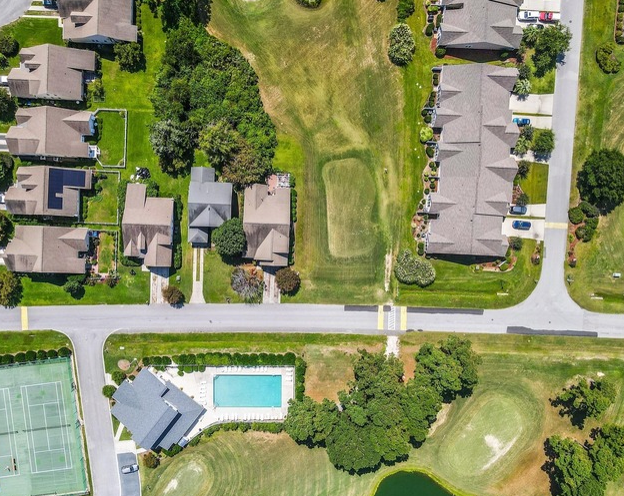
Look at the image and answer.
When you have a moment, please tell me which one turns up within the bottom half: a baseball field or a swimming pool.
swimming pool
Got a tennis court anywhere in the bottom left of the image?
Yes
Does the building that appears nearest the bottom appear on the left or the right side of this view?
left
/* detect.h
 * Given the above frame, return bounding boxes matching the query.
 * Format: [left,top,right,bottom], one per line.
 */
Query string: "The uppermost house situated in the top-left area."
[57,0,133,42]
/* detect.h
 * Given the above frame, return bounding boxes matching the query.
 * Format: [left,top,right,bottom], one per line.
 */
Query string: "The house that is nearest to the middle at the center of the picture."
[244,182,290,266]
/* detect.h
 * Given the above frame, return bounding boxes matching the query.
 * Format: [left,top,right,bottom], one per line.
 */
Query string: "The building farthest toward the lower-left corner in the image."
[108,368,206,451]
